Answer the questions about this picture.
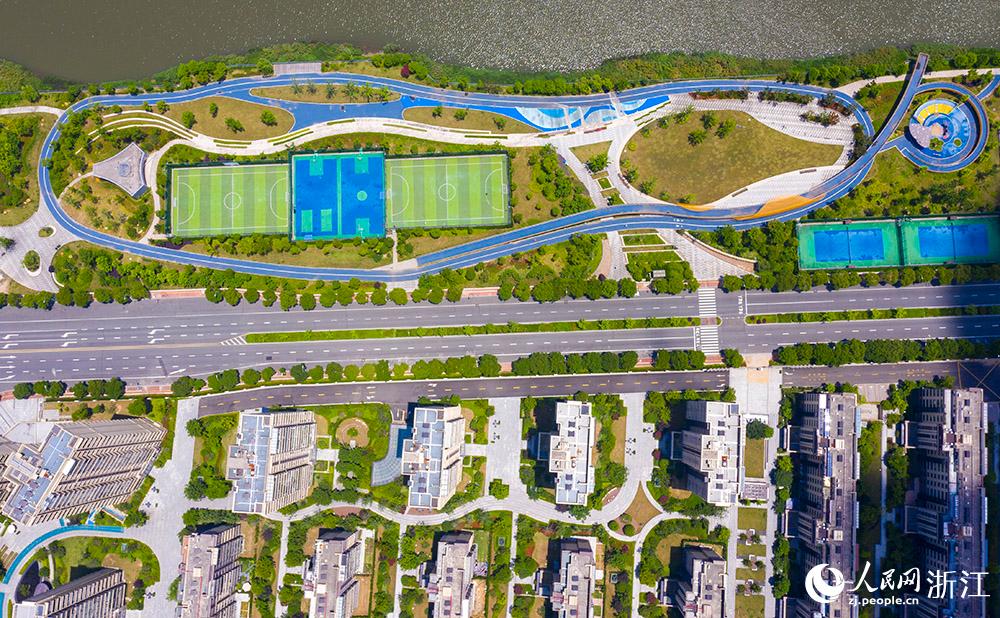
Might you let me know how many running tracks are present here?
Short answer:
1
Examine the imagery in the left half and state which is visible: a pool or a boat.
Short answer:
pool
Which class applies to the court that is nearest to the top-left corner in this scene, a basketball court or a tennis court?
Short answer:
basketball court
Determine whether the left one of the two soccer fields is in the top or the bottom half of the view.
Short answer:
top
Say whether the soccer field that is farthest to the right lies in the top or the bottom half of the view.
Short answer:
top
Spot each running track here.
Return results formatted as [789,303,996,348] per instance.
[39,71,876,280]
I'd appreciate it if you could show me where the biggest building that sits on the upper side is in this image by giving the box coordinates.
[93,143,147,196]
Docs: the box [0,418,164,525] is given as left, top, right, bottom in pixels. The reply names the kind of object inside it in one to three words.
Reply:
building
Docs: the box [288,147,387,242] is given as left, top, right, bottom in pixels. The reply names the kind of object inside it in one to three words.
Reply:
basketball court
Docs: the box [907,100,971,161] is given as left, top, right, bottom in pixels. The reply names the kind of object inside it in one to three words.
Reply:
playground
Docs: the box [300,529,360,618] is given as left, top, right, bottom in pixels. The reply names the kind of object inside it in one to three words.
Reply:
building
